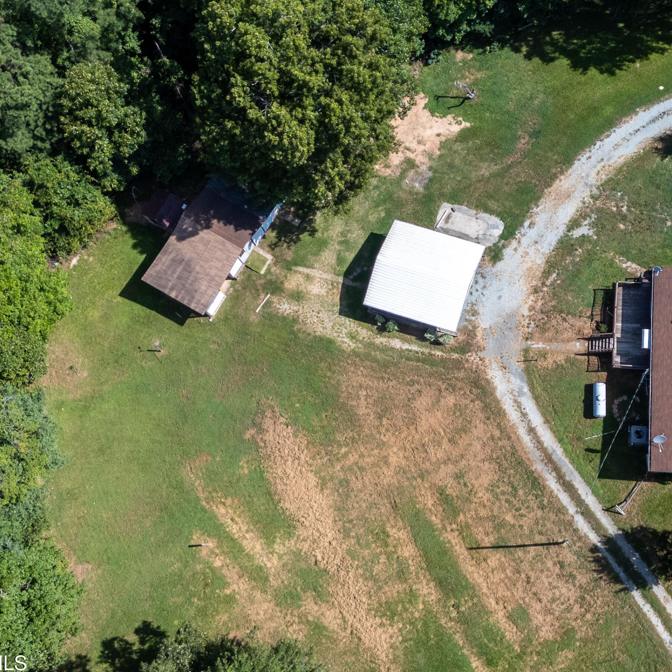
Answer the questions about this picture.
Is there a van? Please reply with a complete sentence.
No, no van can be seen from above.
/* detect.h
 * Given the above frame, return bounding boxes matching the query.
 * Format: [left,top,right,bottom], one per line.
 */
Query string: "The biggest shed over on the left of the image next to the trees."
[141,162,295,321]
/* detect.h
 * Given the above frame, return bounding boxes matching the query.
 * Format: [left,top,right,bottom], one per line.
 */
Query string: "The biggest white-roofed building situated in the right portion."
[362,219,487,337]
